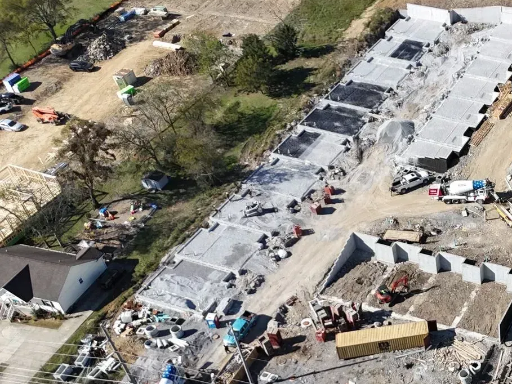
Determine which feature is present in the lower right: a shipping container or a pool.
shipping container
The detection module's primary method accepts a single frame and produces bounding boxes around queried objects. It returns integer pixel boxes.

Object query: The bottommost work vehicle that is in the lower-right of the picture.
[373,274,411,304]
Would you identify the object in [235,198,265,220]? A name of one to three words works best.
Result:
work vehicle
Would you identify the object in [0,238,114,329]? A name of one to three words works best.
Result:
house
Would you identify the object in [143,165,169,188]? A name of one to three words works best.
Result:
shed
